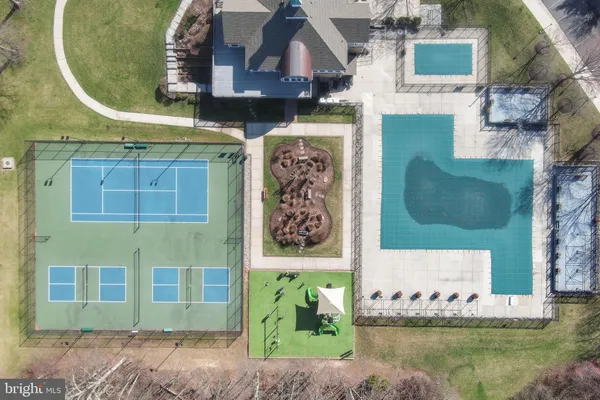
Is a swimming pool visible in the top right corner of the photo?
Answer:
Yes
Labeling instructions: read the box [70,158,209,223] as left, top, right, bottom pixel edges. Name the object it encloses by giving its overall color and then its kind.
blue tennis court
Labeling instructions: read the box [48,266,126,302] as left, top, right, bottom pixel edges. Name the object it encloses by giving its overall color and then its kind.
blue sports court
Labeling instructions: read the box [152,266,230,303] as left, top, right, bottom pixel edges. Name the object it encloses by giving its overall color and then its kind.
blue sports court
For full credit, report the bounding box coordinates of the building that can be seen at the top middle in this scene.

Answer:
[213,0,370,100]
